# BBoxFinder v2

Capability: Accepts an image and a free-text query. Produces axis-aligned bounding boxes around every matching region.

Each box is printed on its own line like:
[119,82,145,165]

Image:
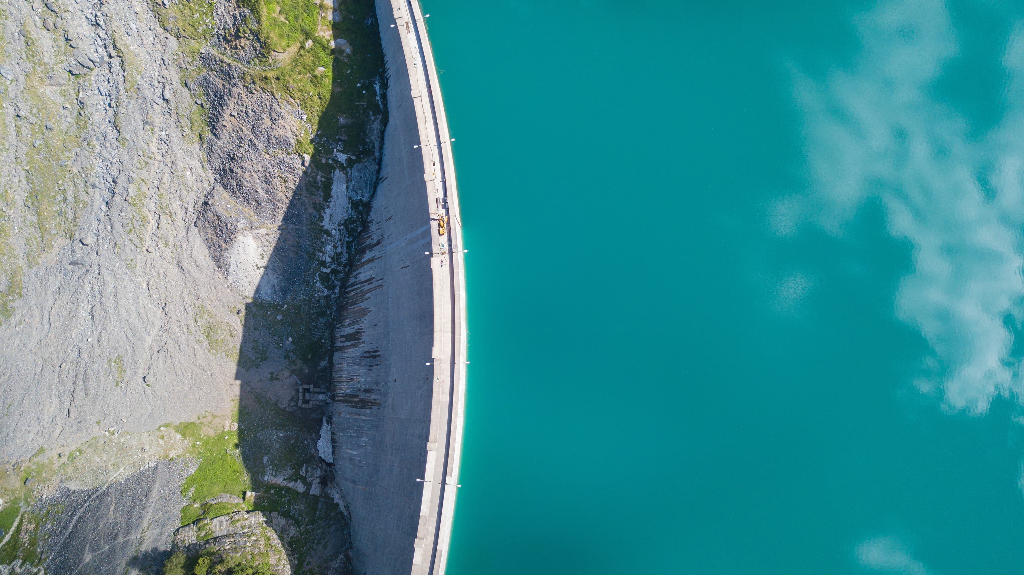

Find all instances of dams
[328,0,465,575]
